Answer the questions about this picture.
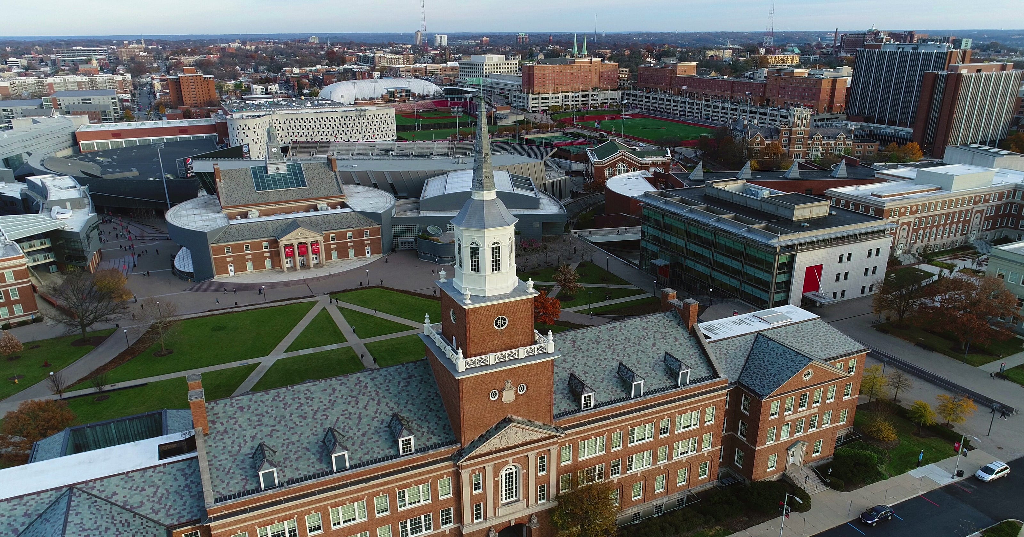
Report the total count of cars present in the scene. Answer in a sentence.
Looking from above, you can make out 2 cars.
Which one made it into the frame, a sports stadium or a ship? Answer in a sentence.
Visible in the photo is a sports stadium.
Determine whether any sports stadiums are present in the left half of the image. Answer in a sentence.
Yes, the scene does show a sports stadium in the left half of the image.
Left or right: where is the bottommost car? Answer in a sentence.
The bottommost car is on the right side of the image.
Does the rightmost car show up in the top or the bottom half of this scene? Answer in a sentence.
The rightmost car is in the bottom half of the image.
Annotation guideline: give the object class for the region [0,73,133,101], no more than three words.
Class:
building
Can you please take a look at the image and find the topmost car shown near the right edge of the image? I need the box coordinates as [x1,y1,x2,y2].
[977,458,1012,481]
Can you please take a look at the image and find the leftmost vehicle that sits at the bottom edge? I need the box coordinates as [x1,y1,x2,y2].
[861,506,897,527]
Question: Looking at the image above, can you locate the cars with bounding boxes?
[977,458,1012,481]
[861,506,897,527]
